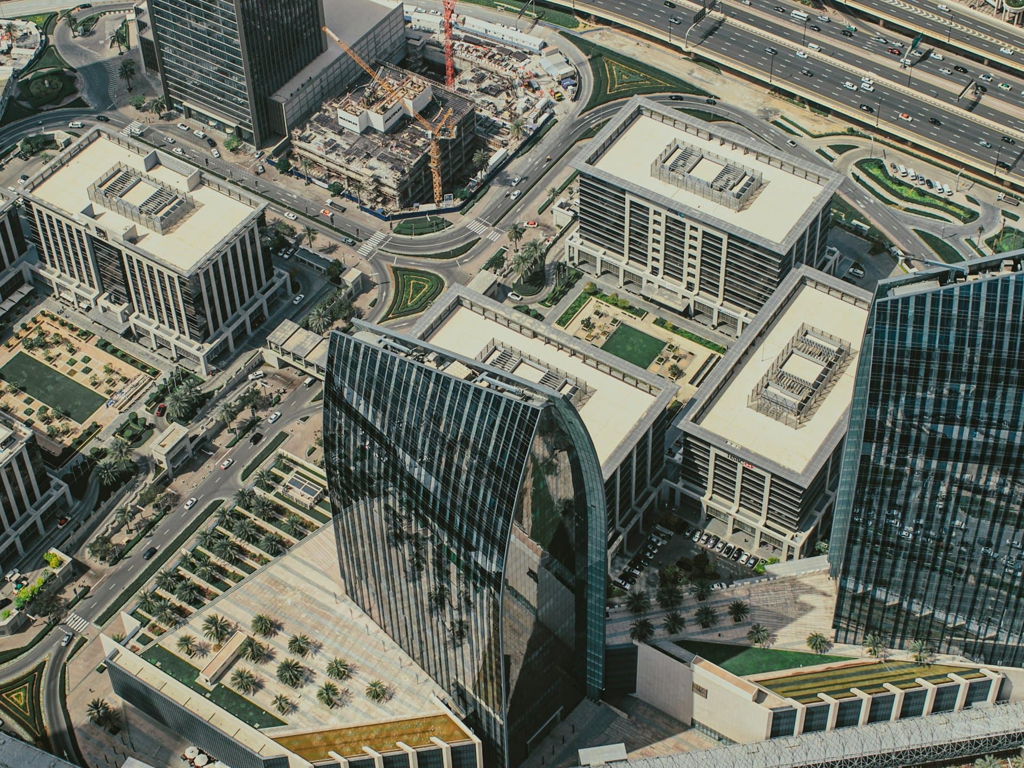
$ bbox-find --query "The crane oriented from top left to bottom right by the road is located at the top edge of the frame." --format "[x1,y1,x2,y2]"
[323,26,462,209]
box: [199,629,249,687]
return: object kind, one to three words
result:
house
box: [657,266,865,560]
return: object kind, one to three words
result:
building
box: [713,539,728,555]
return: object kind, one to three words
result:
car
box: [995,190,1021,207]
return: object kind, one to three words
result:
vehicle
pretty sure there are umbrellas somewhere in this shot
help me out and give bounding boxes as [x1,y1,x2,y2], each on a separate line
[213,759,229,768]
[193,754,209,768]
[184,746,200,760]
